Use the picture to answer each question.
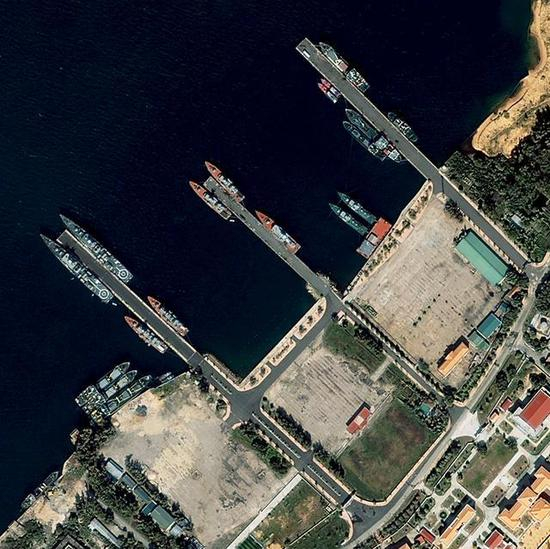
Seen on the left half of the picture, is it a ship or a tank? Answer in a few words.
ship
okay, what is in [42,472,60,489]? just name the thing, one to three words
boat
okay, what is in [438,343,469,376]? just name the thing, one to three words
building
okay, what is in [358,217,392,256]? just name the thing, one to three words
pier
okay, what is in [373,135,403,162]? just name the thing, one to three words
ship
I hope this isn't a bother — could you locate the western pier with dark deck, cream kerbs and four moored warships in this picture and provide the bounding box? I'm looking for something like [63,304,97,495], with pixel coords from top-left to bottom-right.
[57,229,204,366]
